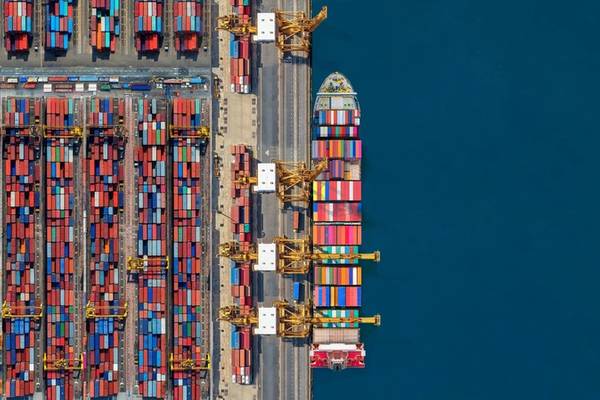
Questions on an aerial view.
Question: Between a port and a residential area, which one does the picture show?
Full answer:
The area seen from above is a port.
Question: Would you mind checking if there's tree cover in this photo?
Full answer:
No, there is no tree cover in the image.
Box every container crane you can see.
[2,126,47,139]
[217,295,381,338]
[128,256,173,269]
[87,302,131,317]
[217,154,329,199]
[217,2,328,57]
[87,126,131,139]
[44,126,89,140]
[171,353,213,370]
[171,126,213,140]
[217,235,381,275]
[44,353,89,370]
